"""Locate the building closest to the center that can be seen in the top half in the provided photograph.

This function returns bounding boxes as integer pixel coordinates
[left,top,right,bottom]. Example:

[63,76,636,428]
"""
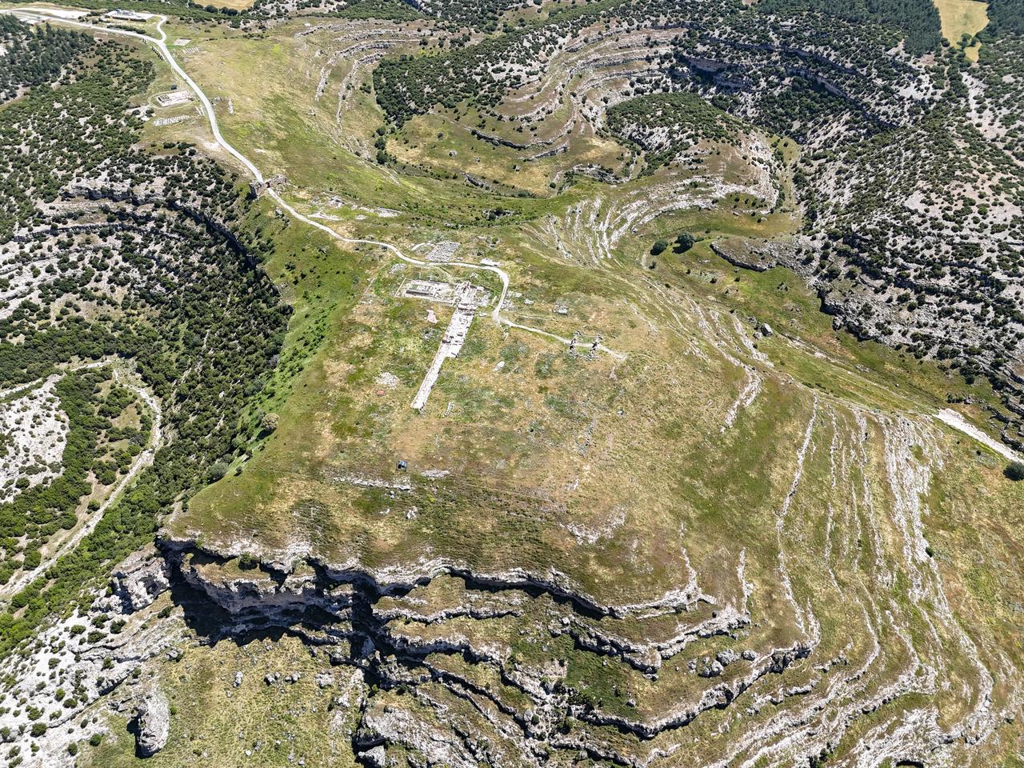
[456,281,490,309]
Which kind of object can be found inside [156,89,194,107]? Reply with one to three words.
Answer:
building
